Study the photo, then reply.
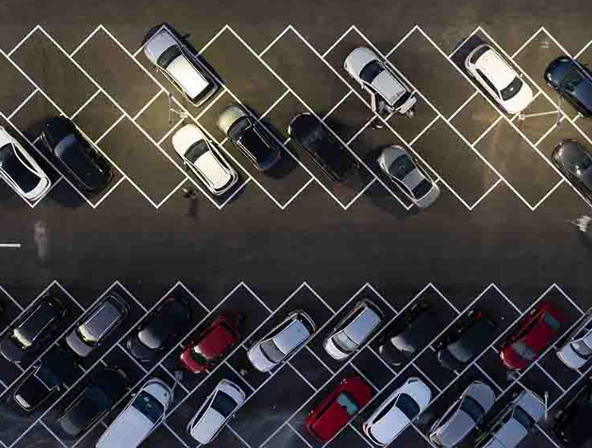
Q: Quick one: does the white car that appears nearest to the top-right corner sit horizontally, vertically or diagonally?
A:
diagonally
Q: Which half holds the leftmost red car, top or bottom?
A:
bottom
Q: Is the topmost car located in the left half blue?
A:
No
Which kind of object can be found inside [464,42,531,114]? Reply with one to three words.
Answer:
car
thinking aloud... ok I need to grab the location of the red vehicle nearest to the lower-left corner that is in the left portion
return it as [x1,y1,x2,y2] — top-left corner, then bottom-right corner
[181,307,244,372]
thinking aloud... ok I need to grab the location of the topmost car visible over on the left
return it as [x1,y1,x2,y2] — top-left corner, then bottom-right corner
[146,32,218,108]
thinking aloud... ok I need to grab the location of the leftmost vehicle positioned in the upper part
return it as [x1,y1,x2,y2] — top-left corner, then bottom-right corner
[0,125,54,203]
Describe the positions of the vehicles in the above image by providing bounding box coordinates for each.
[174,124,238,196]
[127,292,195,364]
[343,45,417,117]
[38,114,115,199]
[247,305,317,372]
[544,56,592,120]
[498,299,570,371]
[89,379,176,448]
[290,113,361,188]
[187,378,247,448]
[550,375,592,448]
[436,305,500,372]
[379,143,444,211]
[305,375,374,447]
[146,32,218,108]
[357,375,432,448]
[378,297,442,364]
[464,42,531,114]
[321,297,385,362]
[9,345,81,418]
[425,379,497,448]
[550,137,592,206]
[181,307,244,372]
[0,125,54,203]
[475,388,547,448]
[556,306,592,369]
[67,289,134,359]
[55,365,129,442]
[0,291,72,365]
[220,104,284,175]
